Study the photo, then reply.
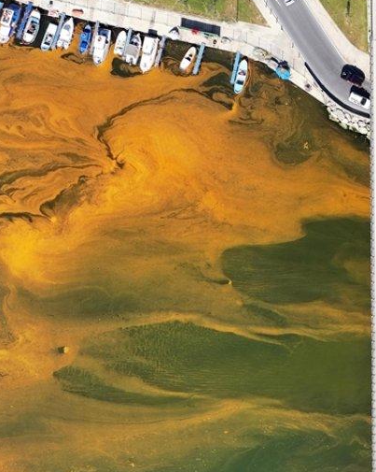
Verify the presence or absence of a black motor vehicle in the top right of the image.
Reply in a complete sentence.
Yes, you'll find a black motor vehicle in the top right of the image.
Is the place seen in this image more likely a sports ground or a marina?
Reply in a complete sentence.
The picture captures a marina.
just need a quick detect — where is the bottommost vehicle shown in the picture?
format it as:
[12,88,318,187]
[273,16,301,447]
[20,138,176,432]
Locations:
[346,89,370,109]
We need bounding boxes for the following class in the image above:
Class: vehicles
[346,89,370,109]
[341,65,365,84]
